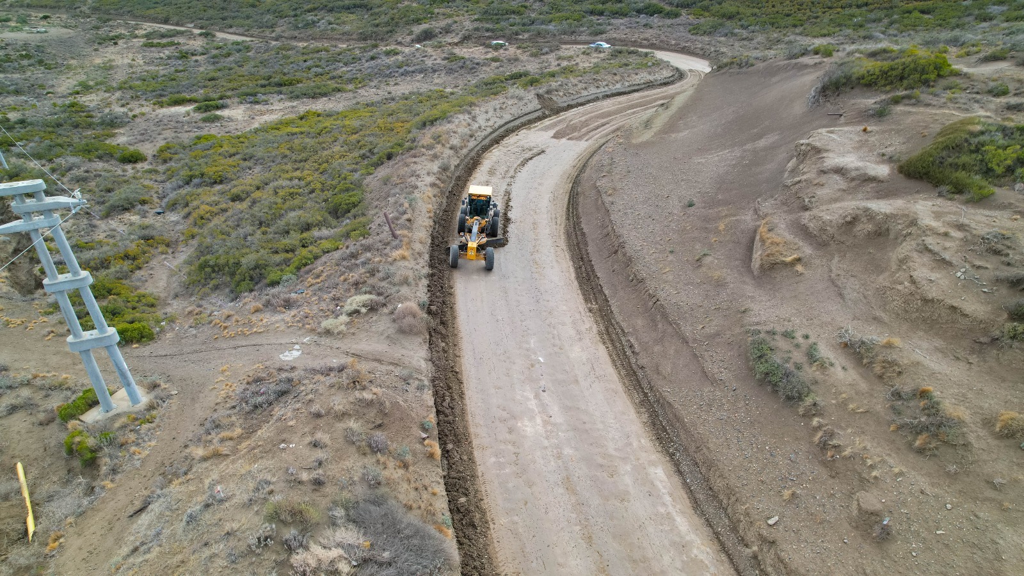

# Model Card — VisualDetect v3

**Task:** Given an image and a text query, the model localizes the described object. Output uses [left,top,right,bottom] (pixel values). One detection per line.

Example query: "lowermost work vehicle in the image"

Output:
[446,185,506,271]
